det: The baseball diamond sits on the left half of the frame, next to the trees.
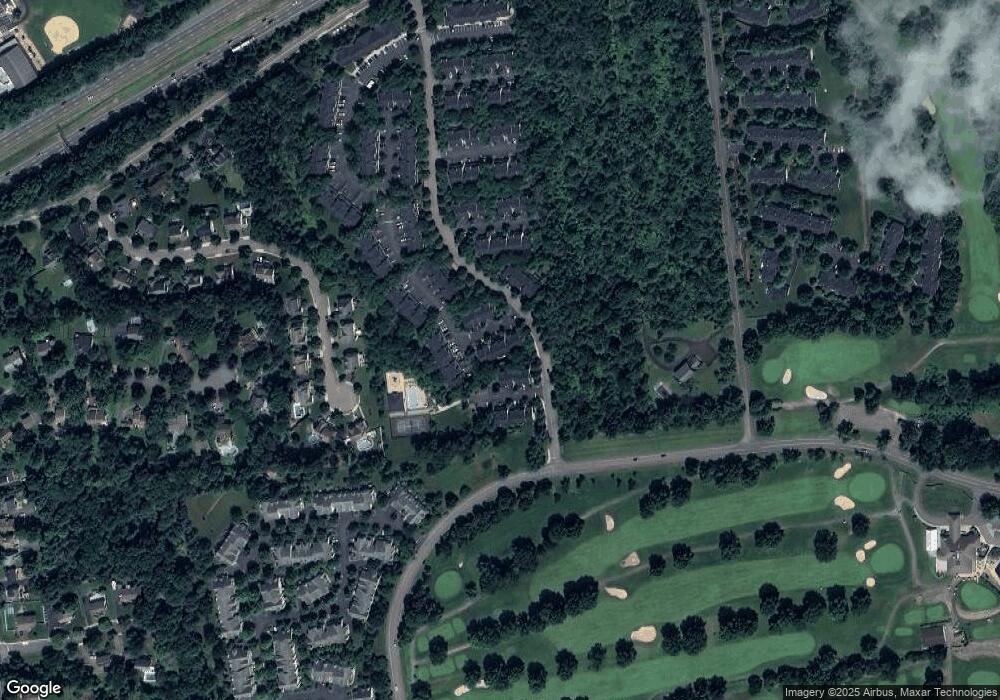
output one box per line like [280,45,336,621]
[44,16,79,56]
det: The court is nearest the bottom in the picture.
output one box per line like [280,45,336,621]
[391,414,430,437]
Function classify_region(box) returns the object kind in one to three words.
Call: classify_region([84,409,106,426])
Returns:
house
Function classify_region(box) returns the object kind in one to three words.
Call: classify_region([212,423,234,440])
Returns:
house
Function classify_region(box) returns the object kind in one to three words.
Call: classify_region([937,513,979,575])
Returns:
building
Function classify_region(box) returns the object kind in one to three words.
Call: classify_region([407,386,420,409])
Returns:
swimming pool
